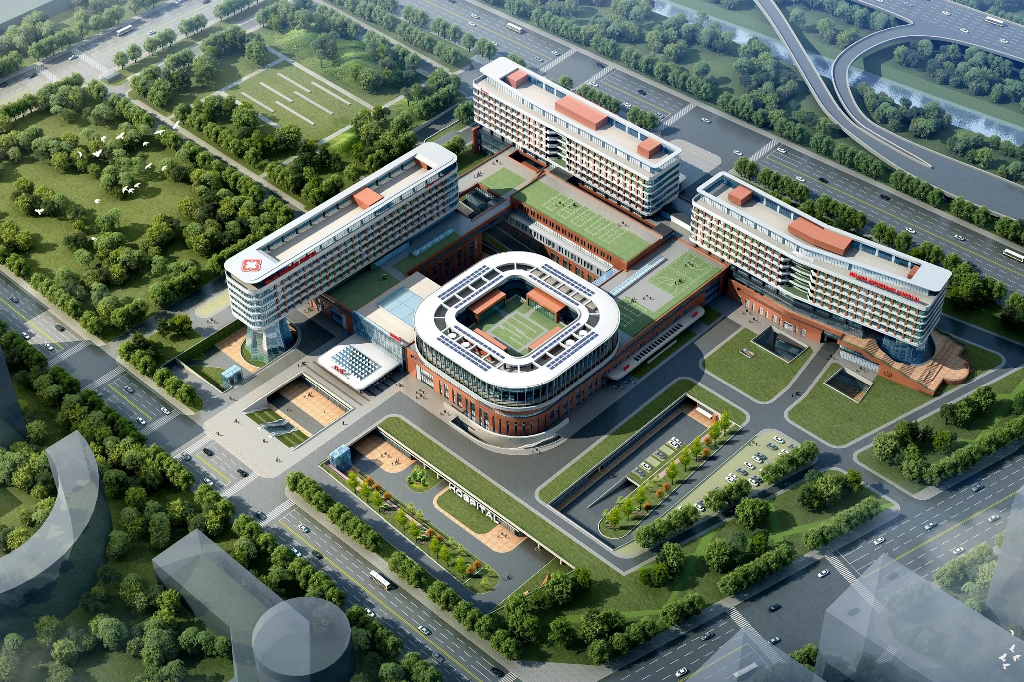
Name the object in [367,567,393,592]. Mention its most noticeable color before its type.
white bus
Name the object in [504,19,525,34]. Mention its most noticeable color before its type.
white vehicle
